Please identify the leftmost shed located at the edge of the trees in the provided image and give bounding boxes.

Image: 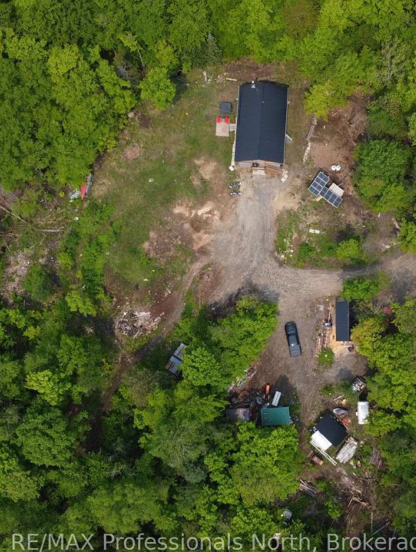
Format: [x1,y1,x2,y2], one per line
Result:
[227,406,251,423]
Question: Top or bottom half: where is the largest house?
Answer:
top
